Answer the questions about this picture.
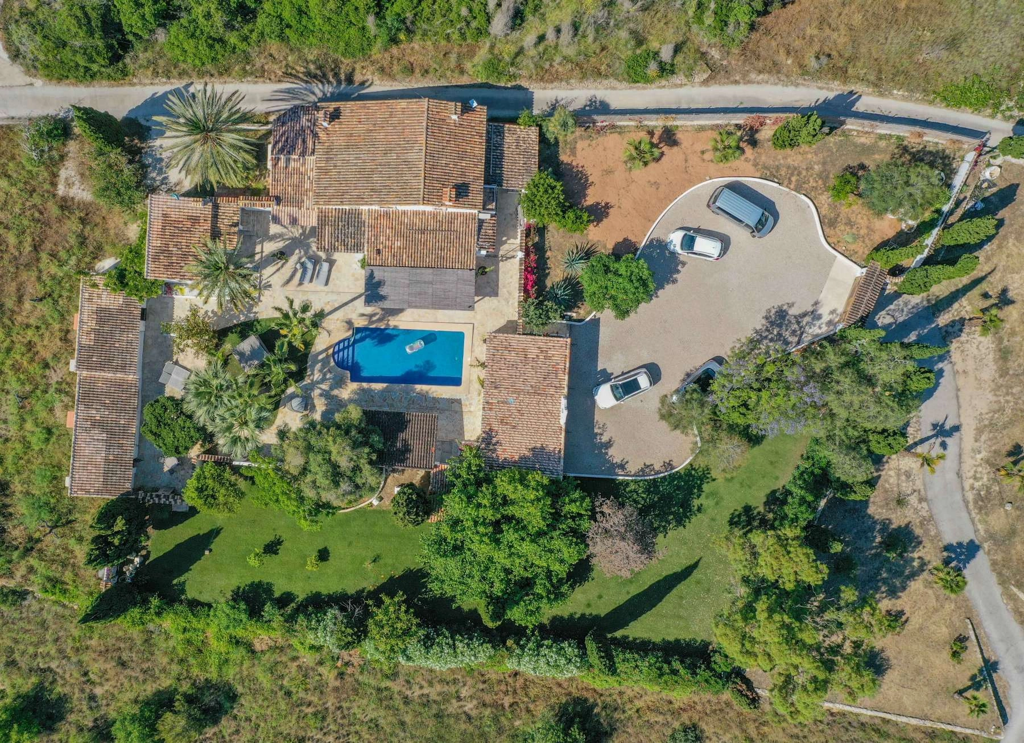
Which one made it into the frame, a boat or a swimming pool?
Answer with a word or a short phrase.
swimming pool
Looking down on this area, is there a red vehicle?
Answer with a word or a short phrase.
No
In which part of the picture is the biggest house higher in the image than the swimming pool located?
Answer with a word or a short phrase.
top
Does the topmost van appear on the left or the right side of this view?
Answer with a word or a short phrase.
right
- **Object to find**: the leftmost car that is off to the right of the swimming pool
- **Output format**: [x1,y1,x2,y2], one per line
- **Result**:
[592,367,653,409]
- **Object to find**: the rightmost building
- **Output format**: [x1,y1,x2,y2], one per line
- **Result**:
[476,334,571,478]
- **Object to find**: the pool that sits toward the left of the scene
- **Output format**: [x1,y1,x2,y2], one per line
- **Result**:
[322,322,473,395]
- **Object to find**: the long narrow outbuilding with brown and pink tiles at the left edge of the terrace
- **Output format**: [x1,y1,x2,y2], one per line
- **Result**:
[65,275,148,497]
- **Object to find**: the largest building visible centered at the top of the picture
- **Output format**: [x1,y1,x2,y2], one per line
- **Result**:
[270,96,539,270]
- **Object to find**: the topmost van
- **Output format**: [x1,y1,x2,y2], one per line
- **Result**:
[705,186,773,240]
